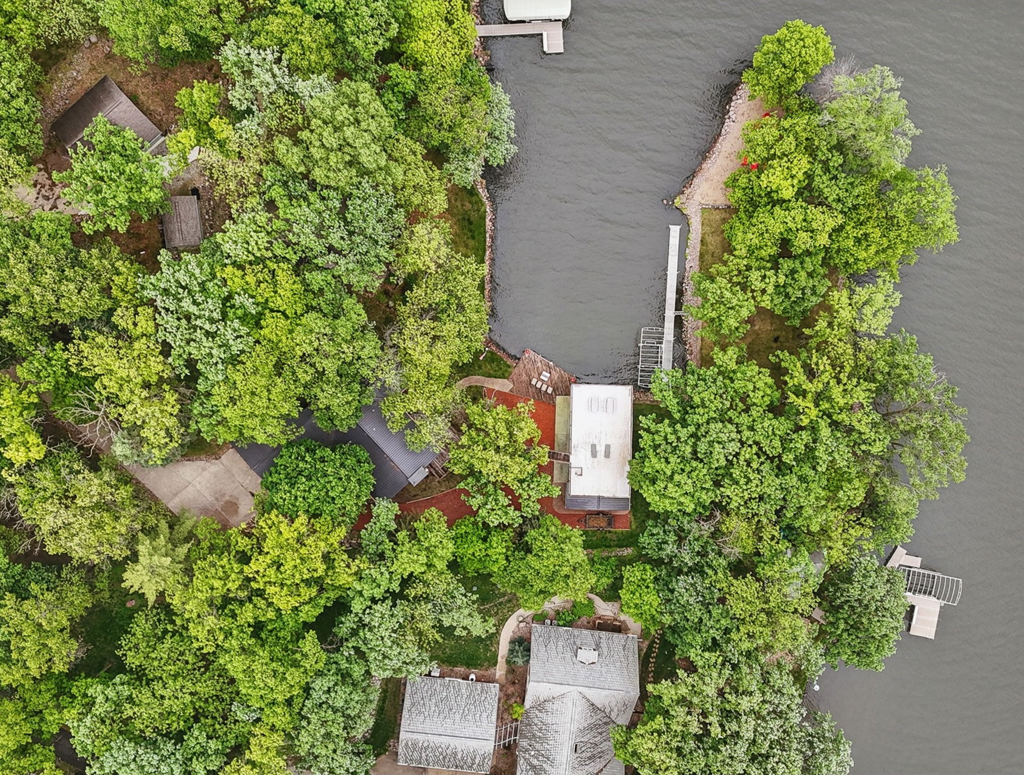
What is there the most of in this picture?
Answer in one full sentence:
The largest share of the image is taken up by trees.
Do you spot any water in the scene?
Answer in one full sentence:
Yes, some water is visible.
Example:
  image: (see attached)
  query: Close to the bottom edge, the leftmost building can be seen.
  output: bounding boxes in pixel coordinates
[397,674,500,775]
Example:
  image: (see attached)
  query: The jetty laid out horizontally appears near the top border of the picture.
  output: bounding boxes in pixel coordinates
[483,22,564,54]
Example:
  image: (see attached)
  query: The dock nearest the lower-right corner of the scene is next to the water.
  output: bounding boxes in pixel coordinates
[883,550,941,641]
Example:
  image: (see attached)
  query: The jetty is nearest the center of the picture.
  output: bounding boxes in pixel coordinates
[662,225,683,374]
